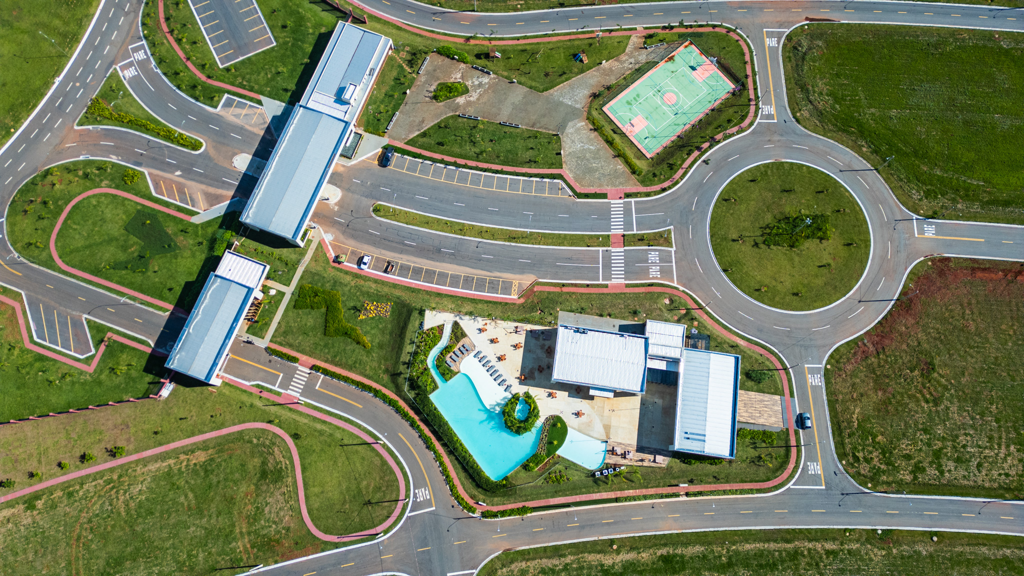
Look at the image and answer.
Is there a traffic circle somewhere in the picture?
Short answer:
Yes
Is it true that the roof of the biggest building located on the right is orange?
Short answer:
No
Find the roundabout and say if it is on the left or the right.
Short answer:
right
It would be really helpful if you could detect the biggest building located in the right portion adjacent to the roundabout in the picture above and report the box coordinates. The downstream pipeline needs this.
[550,320,741,459]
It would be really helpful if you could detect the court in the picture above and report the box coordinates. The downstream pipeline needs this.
[602,31,740,158]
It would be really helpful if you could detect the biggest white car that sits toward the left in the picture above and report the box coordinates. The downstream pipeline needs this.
[360,253,372,269]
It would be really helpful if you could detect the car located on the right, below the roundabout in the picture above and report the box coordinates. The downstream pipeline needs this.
[799,412,811,430]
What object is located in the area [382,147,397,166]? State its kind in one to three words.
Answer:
vehicle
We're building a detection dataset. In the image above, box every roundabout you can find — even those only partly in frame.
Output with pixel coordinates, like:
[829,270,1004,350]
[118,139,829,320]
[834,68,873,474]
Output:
[670,121,910,349]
